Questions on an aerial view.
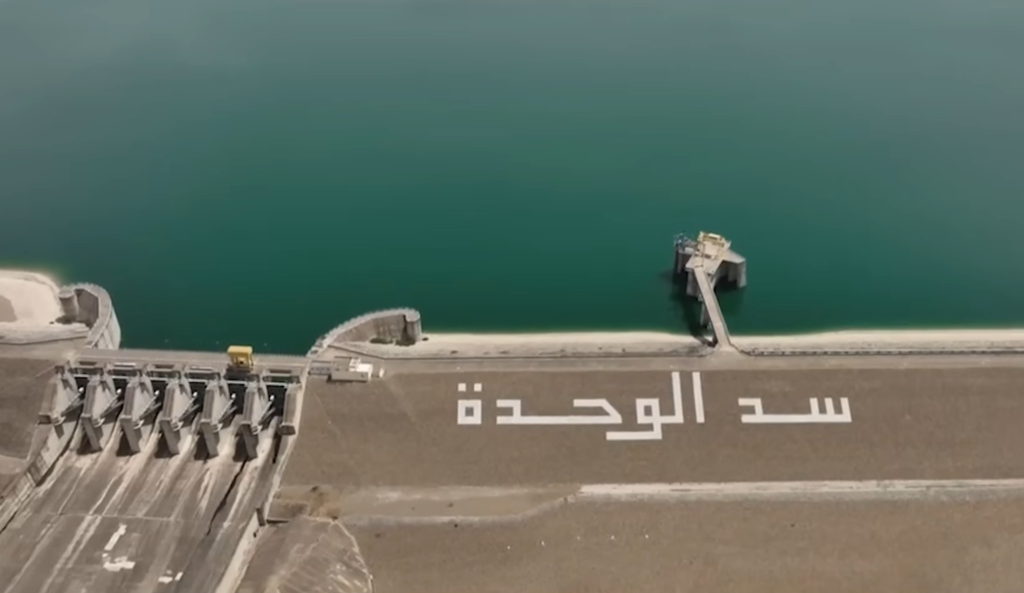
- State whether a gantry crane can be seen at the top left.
No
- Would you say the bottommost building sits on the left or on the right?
left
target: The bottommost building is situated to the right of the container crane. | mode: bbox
[331,358,372,381]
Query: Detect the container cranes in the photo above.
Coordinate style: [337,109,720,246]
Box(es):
[225,346,257,372]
